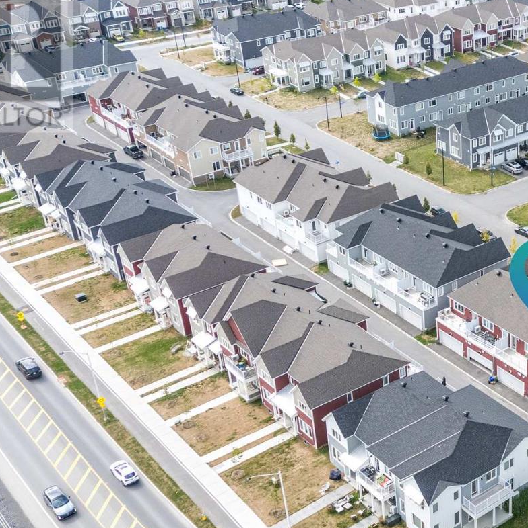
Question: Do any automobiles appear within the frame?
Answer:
Yes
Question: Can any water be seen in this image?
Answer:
No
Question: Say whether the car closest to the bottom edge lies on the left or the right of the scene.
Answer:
left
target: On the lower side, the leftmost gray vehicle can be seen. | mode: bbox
[17,360,41,381]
